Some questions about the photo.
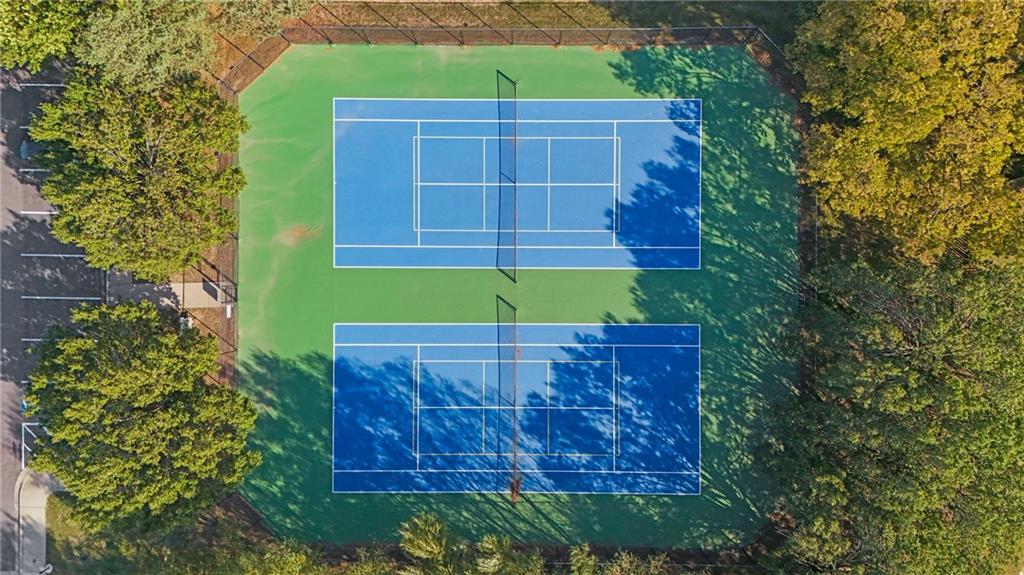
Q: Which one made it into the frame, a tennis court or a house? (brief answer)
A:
tennis court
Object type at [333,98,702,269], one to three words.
tennis court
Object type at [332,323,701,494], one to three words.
tennis court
